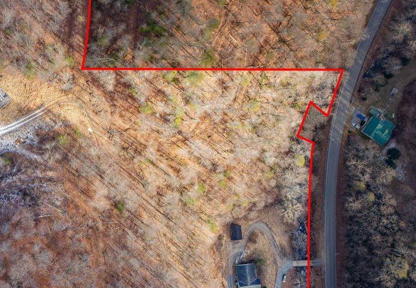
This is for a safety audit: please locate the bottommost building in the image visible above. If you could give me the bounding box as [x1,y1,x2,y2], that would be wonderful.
[237,263,261,288]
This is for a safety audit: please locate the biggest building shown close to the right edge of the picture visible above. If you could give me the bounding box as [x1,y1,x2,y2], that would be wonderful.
[361,107,395,145]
